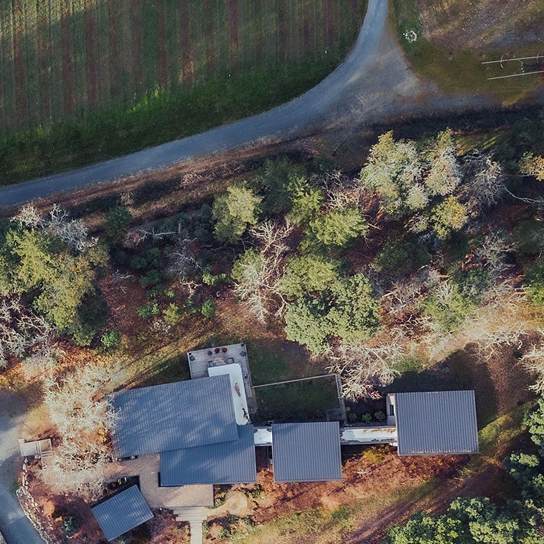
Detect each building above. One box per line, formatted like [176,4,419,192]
[269,421,342,483]
[111,362,256,486]
[91,484,153,542]
[388,390,478,457]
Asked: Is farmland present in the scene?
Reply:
Yes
